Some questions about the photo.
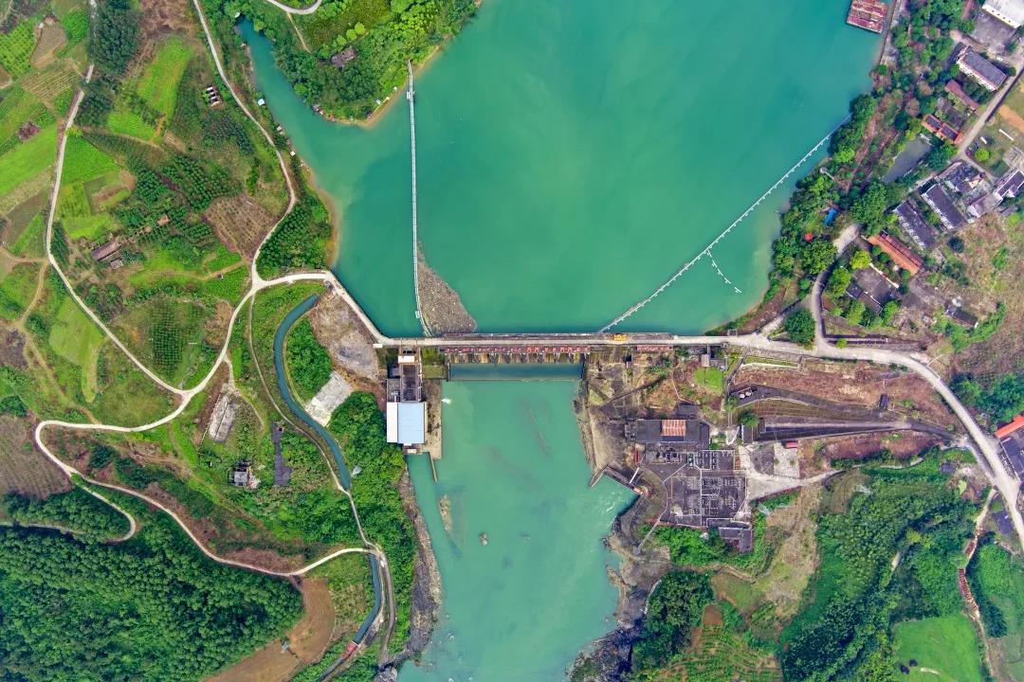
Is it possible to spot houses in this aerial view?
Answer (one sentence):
Yes, I can see a house in this picture.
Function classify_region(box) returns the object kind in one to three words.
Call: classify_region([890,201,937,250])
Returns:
house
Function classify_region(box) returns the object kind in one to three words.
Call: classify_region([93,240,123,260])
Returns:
shed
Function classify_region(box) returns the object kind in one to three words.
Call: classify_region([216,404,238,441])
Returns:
barn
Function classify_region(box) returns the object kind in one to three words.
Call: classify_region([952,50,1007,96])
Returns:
building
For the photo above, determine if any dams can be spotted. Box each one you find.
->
[324,272,675,382]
